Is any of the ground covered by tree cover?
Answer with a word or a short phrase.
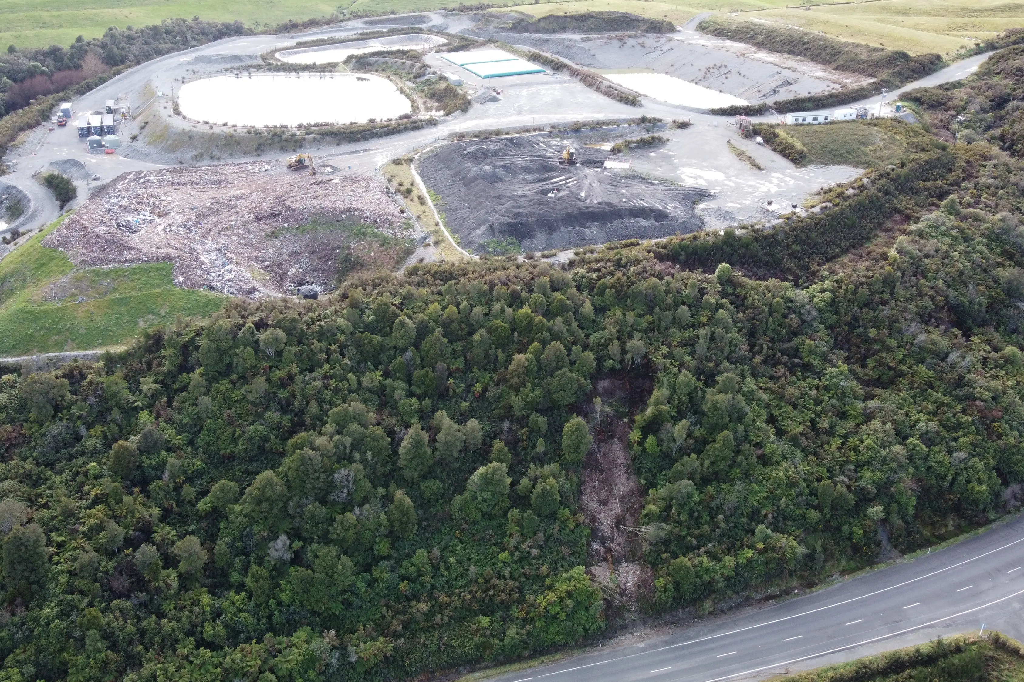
Yes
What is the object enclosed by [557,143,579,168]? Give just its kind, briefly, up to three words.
work vehicle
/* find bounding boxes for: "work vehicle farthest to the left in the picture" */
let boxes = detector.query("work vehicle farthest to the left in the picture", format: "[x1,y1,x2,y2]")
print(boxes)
[54,110,68,127]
